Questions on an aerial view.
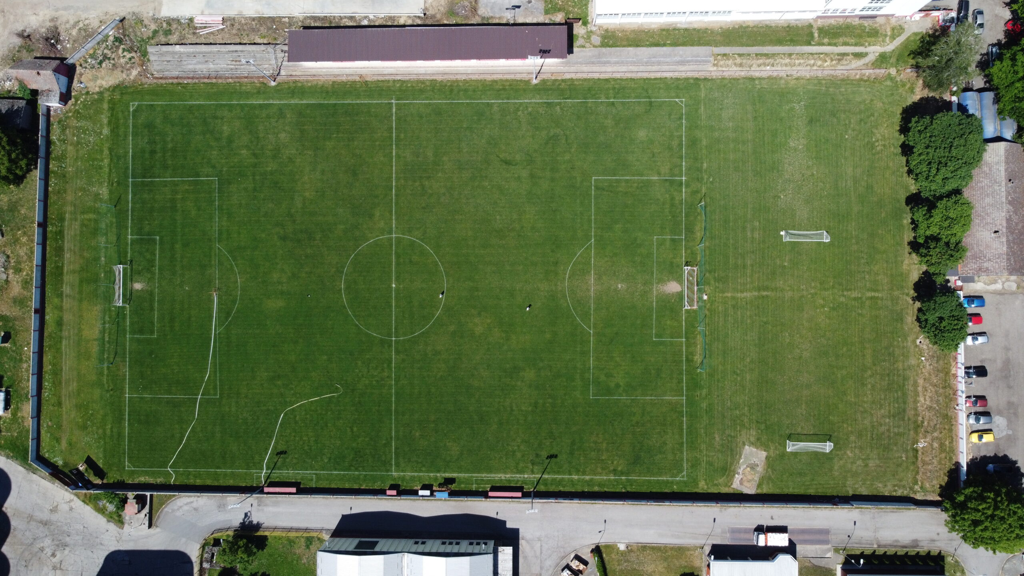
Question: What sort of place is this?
sports ground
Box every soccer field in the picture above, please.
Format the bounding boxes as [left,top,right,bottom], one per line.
[109,81,704,490]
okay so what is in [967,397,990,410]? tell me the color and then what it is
red vehicle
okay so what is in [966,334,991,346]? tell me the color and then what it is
white vehicle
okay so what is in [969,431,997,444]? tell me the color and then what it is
yellow vehicle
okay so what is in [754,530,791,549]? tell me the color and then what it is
white vehicle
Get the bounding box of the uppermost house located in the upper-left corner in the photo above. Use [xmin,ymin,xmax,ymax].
[9,61,70,106]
